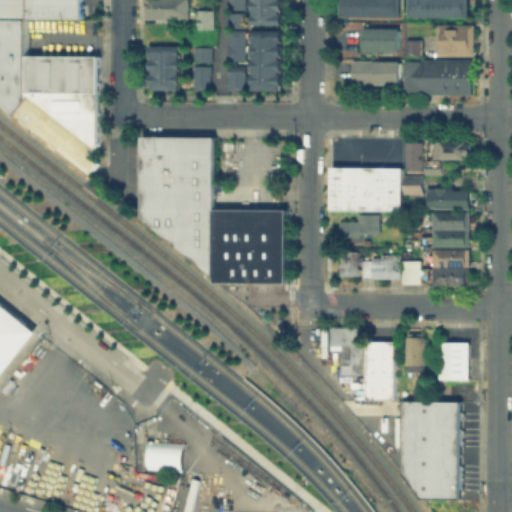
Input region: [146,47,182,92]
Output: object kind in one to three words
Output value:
house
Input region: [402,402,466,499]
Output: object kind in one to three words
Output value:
building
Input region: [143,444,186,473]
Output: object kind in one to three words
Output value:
shed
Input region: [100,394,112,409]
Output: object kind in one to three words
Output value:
vehicle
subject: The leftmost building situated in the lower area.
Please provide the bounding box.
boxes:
[0,300,38,380]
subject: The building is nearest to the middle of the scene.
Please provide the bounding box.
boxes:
[212,210,288,283]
